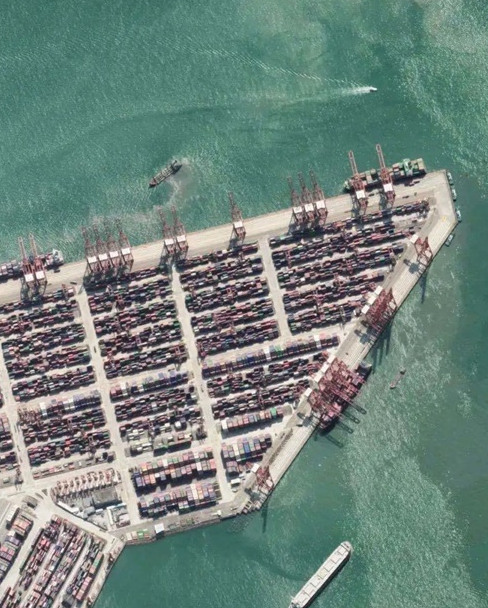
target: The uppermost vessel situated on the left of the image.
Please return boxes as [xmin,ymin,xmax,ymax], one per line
[149,160,180,187]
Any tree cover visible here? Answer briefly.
No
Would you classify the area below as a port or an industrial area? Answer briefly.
port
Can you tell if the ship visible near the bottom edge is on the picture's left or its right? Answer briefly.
right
